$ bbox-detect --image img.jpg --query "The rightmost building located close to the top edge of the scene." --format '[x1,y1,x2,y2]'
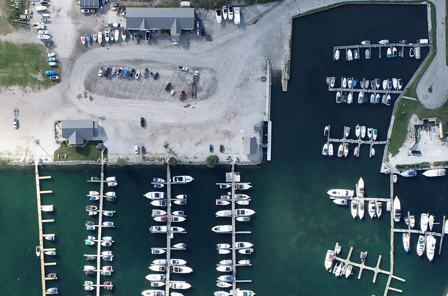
[126,5,194,42]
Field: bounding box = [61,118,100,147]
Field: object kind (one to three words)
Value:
building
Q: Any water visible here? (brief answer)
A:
Yes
